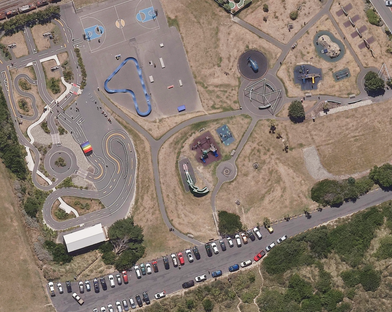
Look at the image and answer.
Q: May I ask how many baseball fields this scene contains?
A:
0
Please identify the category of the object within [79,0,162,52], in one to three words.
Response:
basketball court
